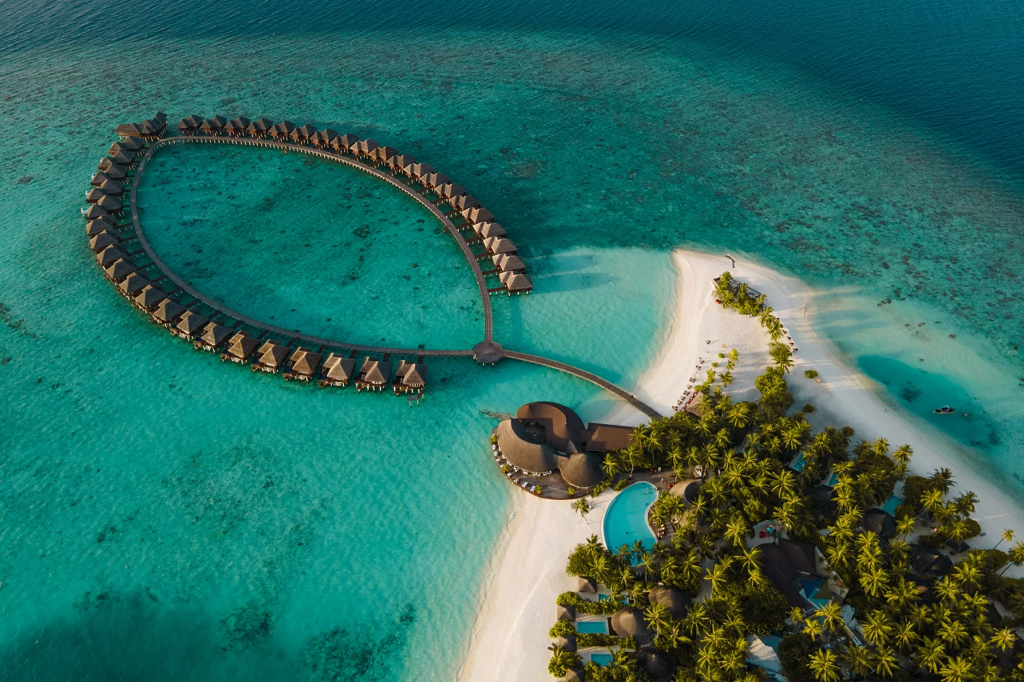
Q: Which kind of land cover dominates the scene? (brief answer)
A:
water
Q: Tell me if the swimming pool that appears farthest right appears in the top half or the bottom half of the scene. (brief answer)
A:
bottom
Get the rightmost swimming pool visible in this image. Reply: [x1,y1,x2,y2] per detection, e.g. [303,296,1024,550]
[879,493,906,519]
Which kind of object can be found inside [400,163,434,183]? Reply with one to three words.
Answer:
house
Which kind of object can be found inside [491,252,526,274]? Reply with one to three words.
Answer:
house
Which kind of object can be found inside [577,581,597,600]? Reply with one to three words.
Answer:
shed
